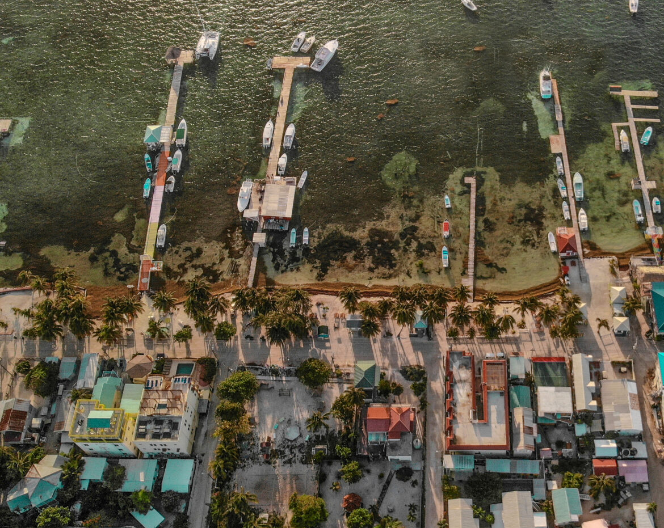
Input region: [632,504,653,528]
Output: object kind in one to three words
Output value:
house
